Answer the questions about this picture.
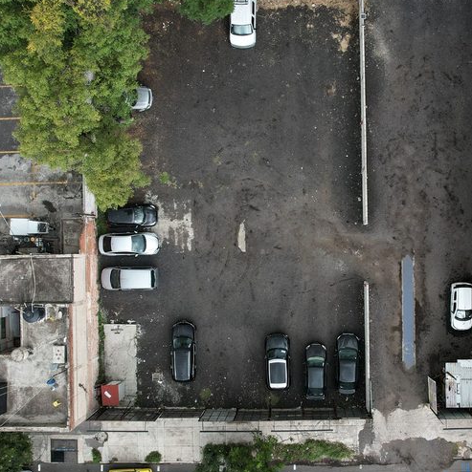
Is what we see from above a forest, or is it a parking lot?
parking lot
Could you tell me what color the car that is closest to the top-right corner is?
white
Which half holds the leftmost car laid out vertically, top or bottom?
bottom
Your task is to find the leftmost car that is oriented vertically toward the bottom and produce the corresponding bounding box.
[167,320,198,384]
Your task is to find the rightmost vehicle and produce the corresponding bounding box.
[448,281,472,332]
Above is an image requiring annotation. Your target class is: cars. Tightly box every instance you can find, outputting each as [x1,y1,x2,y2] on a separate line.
[335,332,361,395]
[108,465,154,472]
[448,281,472,332]
[227,0,257,50]
[98,230,162,258]
[303,341,329,399]
[167,320,198,384]
[105,202,160,230]
[101,264,160,293]
[263,332,291,391]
